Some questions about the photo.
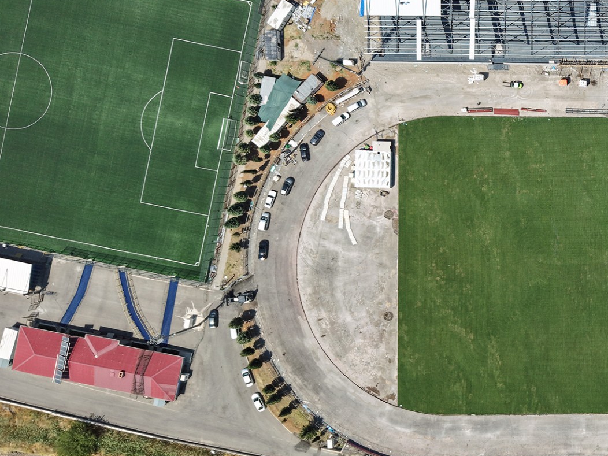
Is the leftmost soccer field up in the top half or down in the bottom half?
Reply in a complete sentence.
The leftmost soccer field is in the top half of the image.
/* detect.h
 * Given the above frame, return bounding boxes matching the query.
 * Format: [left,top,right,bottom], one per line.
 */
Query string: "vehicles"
[259,211,271,231]
[347,99,366,113]
[264,190,279,209]
[260,240,270,260]
[281,177,295,196]
[332,113,351,127]
[231,328,238,339]
[225,292,256,304]
[335,83,365,105]
[310,129,325,147]
[243,367,255,386]
[300,143,311,162]
[253,392,267,412]
[209,309,220,328]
